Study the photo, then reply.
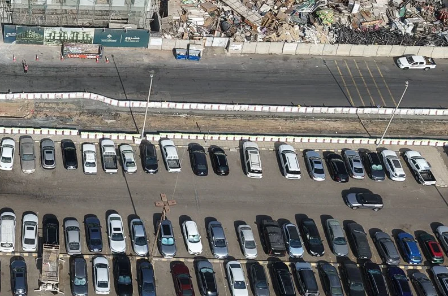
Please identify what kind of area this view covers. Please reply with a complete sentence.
This looks like a parking lot.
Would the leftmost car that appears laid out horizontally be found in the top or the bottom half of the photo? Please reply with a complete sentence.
The leftmost car that appears laid out horizontally sits in the bottom half of the picture.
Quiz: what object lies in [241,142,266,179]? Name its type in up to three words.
car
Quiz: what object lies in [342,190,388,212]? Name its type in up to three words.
car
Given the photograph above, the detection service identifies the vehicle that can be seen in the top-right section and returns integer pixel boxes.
[396,54,439,72]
